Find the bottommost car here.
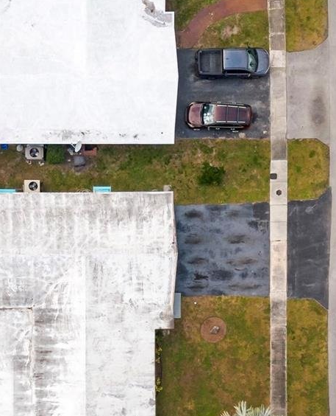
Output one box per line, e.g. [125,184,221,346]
[185,98,252,133]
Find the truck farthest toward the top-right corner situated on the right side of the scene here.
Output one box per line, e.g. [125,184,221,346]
[193,44,269,81]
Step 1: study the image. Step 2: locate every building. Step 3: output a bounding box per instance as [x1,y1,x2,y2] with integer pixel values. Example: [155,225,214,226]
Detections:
[0,186,182,416]
[0,0,180,145]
